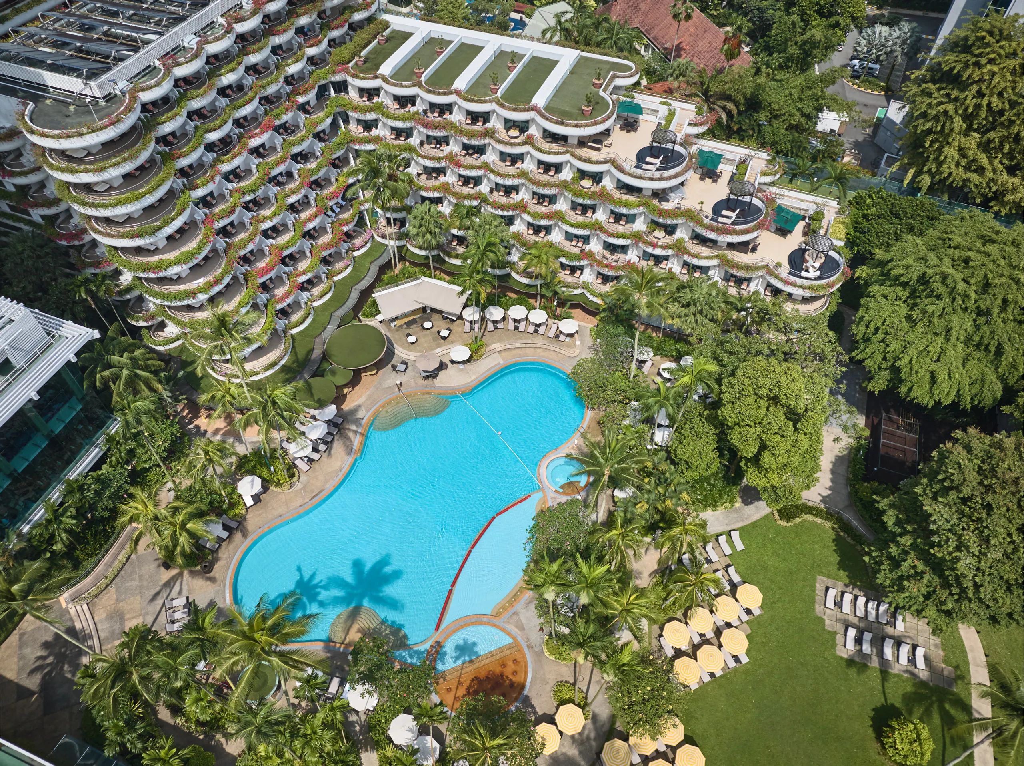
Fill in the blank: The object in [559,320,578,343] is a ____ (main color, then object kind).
white umbrella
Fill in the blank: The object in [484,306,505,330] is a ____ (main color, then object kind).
white umbrella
